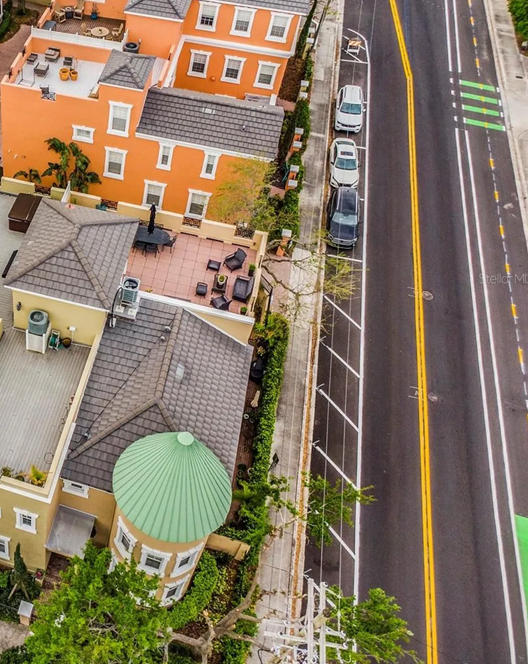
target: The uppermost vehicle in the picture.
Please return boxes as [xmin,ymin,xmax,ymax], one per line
[336,89,370,140]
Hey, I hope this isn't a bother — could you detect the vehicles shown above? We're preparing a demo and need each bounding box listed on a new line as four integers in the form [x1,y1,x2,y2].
[329,190,370,255]
[332,145,368,193]
[336,89,370,140]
